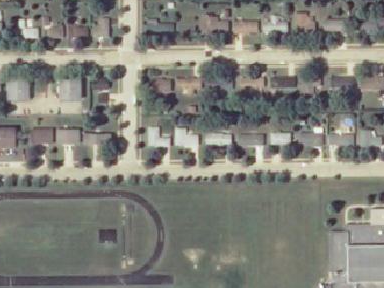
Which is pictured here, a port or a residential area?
residential area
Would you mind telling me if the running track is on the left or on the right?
left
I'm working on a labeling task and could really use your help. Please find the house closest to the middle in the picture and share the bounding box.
[174,127,198,151]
